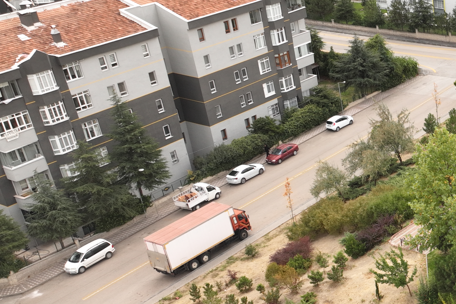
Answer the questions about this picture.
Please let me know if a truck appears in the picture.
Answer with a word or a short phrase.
Yes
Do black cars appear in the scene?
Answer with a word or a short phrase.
No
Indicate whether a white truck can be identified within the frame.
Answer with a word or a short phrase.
Yes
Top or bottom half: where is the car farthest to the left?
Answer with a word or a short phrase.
bottom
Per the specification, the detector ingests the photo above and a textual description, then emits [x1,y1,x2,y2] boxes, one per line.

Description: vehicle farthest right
[324,115,355,132]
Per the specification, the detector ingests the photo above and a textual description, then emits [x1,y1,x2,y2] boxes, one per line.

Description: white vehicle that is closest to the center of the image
[225,165,266,185]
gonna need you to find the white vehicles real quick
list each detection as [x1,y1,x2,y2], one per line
[60,240,115,276]
[324,115,355,132]
[225,165,266,185]
[137,206,250,279]
[165,181,224,211]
